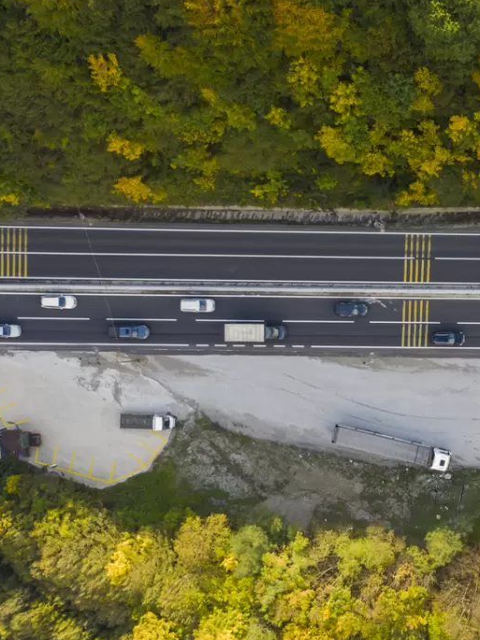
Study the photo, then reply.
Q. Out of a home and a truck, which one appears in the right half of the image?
truck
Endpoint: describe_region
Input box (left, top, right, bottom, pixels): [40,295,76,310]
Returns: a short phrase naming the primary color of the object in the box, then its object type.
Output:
white car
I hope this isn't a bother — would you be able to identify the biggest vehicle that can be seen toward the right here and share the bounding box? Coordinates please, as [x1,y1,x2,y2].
[329,425,453,472]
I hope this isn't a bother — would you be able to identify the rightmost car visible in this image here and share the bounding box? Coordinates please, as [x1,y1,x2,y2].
[432,331,465,346]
